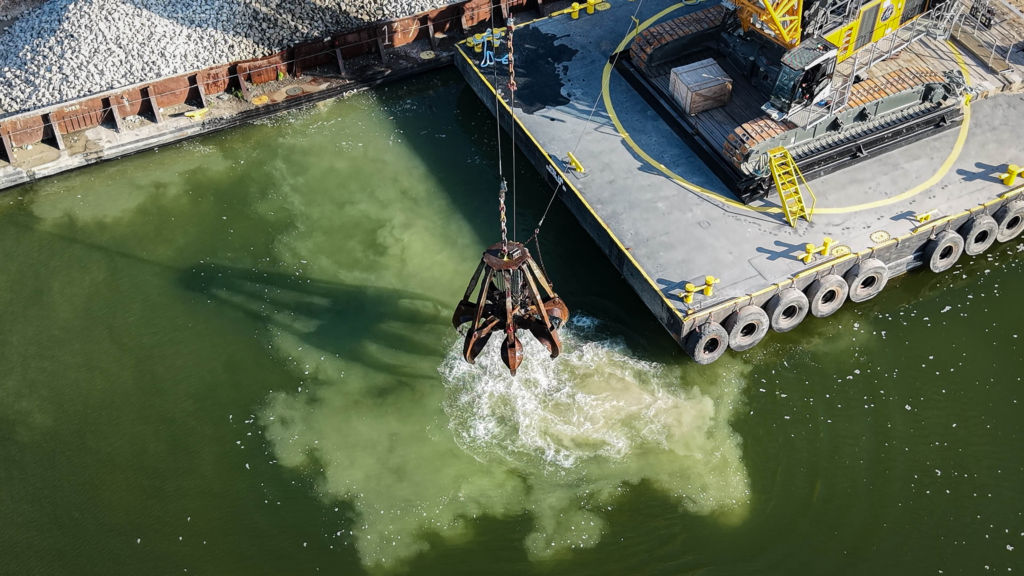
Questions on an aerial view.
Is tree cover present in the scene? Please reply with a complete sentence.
No, tree cover can't be seen anywhere here.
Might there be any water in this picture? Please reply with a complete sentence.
Yes, water shows up in the scene.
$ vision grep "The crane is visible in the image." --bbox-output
[628,0,955,171]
